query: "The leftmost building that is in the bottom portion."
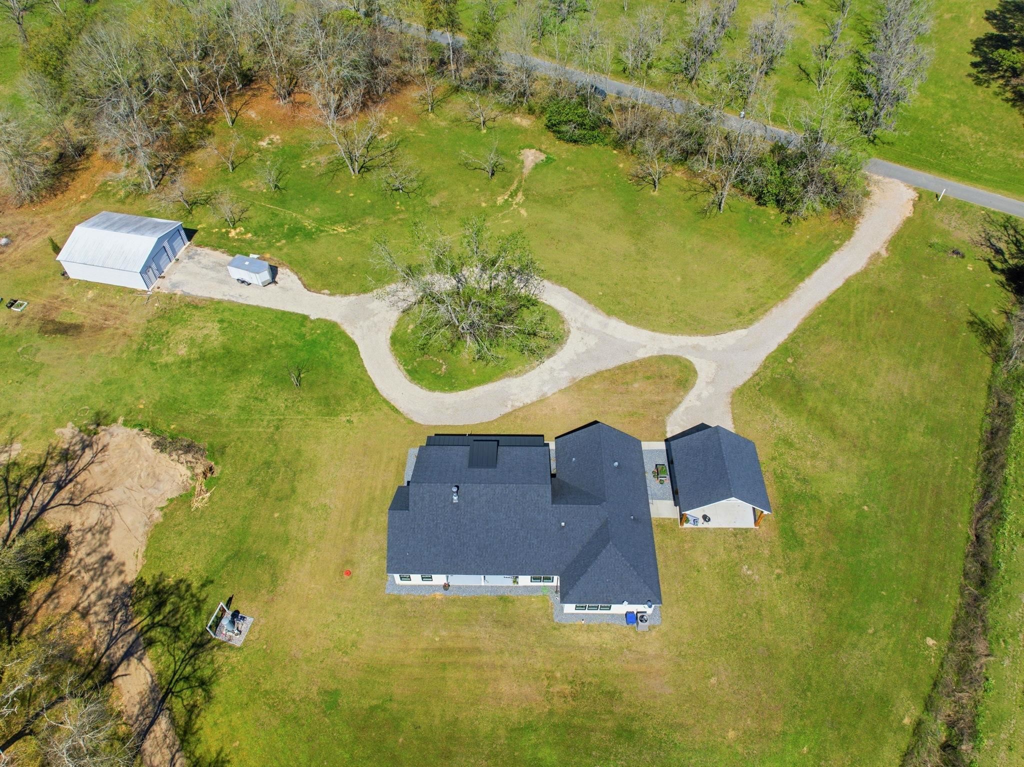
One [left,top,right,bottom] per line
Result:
[387,424,662,614]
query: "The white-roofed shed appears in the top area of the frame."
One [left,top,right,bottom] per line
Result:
[58,213,190,292]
